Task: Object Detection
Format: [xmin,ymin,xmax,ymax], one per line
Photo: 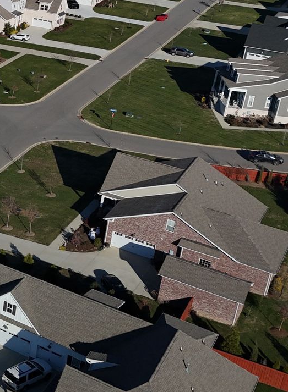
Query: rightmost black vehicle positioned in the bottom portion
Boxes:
[91,269,128,294]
